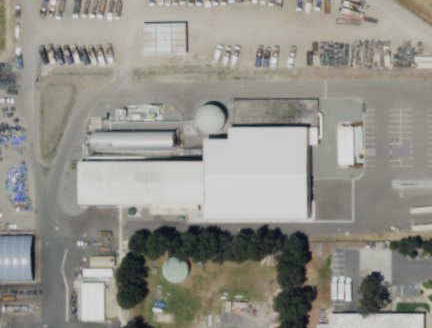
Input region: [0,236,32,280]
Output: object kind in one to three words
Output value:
hangar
